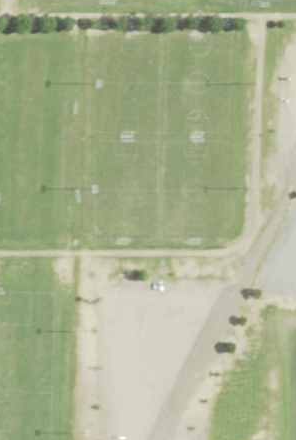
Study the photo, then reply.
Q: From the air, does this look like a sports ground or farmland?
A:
sports ground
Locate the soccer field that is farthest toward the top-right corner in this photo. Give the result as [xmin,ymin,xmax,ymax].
[164,33,232,134]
